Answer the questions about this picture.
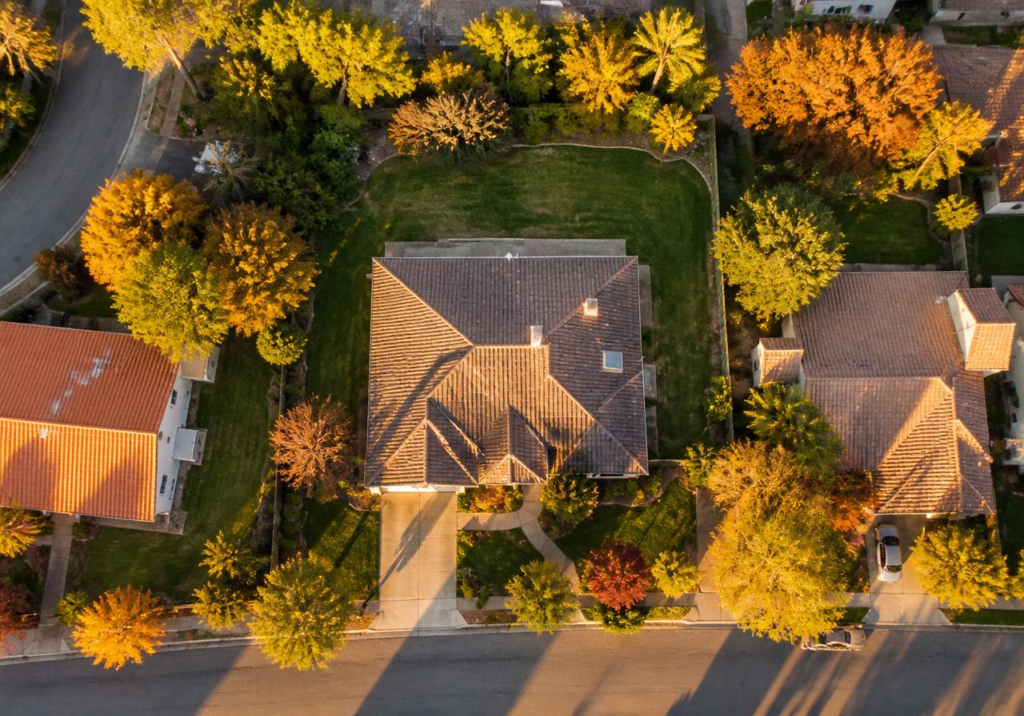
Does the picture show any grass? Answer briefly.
Yes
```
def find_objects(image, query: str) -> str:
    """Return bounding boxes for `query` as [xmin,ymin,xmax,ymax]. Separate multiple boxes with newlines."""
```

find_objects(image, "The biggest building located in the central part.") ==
[364,251,651,491]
